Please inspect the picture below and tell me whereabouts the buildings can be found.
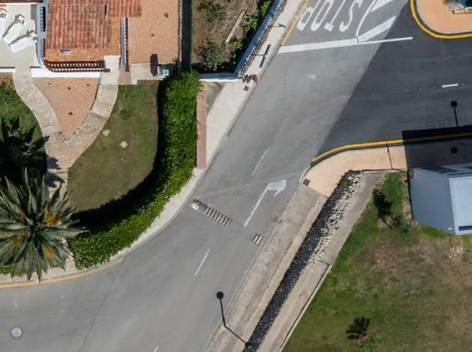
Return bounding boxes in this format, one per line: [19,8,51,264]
[0,0,142,84]
[413,162,472,235]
